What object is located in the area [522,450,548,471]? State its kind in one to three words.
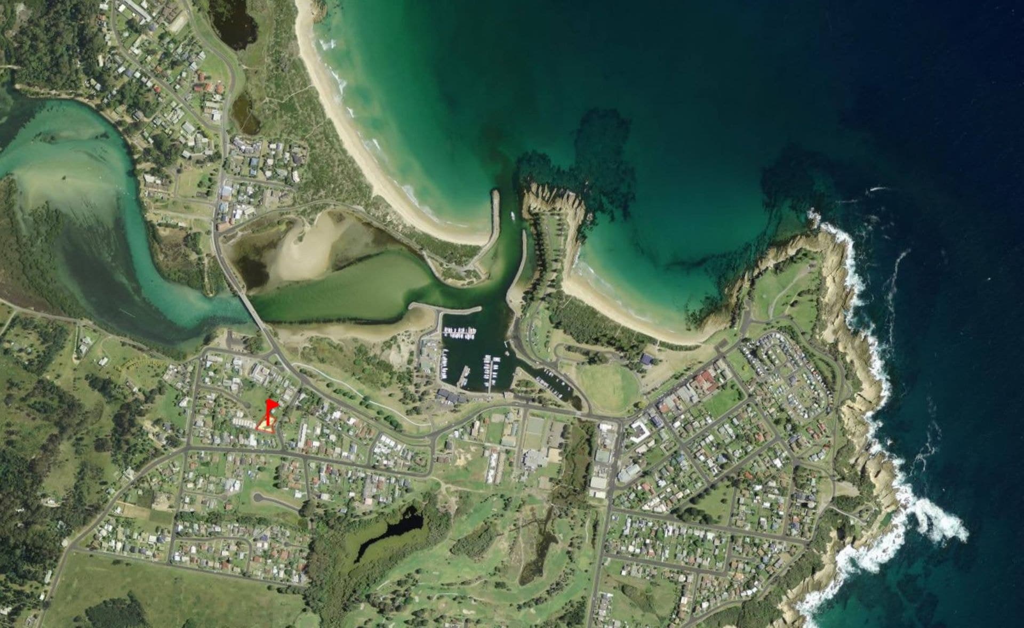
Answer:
building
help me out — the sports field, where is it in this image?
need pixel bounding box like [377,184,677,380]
[576,363,641,415]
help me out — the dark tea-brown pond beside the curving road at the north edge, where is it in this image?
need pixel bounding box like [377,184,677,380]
[205,0,259,51]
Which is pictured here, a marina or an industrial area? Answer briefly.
marina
